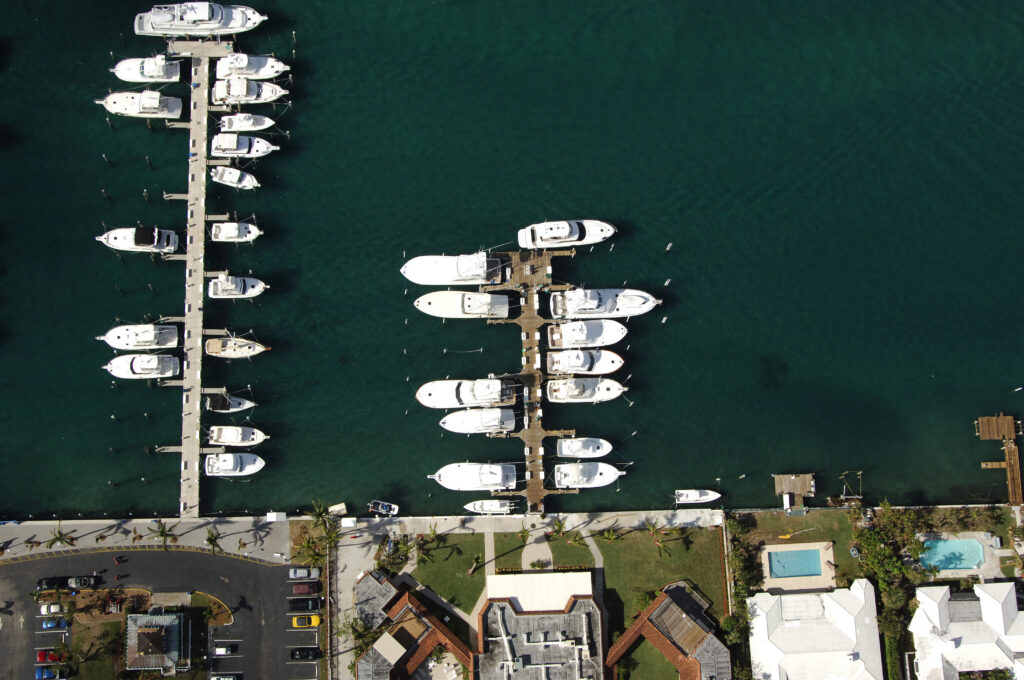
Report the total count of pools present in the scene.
2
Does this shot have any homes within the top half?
No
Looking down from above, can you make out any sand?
No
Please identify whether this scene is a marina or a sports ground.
marina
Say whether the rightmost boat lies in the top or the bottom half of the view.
bottom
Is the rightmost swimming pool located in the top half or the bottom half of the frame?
bottom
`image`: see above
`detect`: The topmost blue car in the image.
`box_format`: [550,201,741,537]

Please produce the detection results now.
[41,617,68,630]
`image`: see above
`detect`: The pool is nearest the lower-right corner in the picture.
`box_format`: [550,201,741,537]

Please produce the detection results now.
[901,532,1004,584]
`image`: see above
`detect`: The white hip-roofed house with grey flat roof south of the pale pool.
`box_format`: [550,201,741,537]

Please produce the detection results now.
[907,582,1024,680]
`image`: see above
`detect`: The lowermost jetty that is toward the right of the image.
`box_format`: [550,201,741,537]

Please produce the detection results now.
[769,473,814,516]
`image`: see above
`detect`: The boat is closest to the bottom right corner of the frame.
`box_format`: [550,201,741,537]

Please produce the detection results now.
[671,479,722,504]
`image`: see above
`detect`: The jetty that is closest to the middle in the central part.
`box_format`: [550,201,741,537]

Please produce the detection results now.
[480,251,578,516]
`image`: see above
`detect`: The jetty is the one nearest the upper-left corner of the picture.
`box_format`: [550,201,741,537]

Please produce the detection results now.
[156,41,233,519]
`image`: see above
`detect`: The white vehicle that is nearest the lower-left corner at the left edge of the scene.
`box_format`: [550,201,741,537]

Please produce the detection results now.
[39,603,64,616]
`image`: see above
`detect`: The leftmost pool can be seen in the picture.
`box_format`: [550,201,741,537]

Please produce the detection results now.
[761,542,835,593]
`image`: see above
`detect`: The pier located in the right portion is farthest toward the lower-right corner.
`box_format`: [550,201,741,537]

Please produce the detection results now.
[971,413,1024,506]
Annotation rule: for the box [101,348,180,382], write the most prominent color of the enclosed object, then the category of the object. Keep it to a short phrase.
white boat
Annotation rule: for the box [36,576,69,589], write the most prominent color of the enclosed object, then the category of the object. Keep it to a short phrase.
black vehicle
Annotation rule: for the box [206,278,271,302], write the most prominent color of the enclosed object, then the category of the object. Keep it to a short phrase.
white boat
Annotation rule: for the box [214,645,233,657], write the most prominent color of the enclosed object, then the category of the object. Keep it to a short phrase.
white vehicle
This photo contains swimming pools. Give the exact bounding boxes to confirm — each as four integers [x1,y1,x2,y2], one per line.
[901,532,1004,584]
[761,542,835,593]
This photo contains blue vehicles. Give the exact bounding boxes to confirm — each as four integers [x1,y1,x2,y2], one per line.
[41,617,68,630]
[34,668,63,680]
